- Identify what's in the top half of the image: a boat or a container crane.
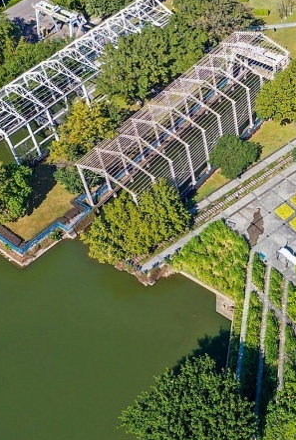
container crane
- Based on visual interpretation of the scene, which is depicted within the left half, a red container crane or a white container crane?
white container crane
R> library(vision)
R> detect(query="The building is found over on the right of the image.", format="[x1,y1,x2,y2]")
[75,31,289,215]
